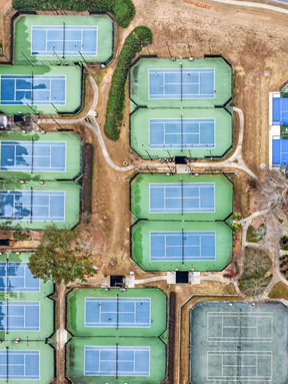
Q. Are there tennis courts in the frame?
Yes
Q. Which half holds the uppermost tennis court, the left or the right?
left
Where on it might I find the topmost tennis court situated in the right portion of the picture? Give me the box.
[130,57,231,106]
